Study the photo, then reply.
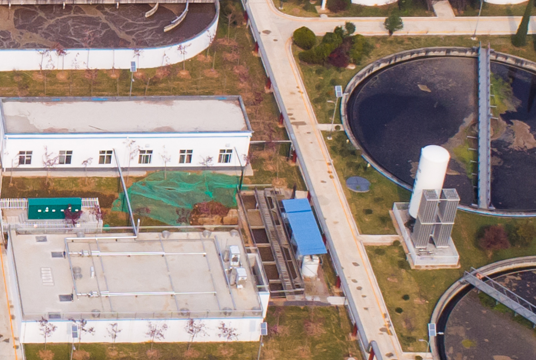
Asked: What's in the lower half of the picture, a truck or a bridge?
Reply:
bridge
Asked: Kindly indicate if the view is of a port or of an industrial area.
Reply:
industrial area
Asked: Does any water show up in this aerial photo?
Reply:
Yes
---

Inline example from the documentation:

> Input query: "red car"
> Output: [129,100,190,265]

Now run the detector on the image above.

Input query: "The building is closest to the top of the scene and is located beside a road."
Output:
[0,96,253,171]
